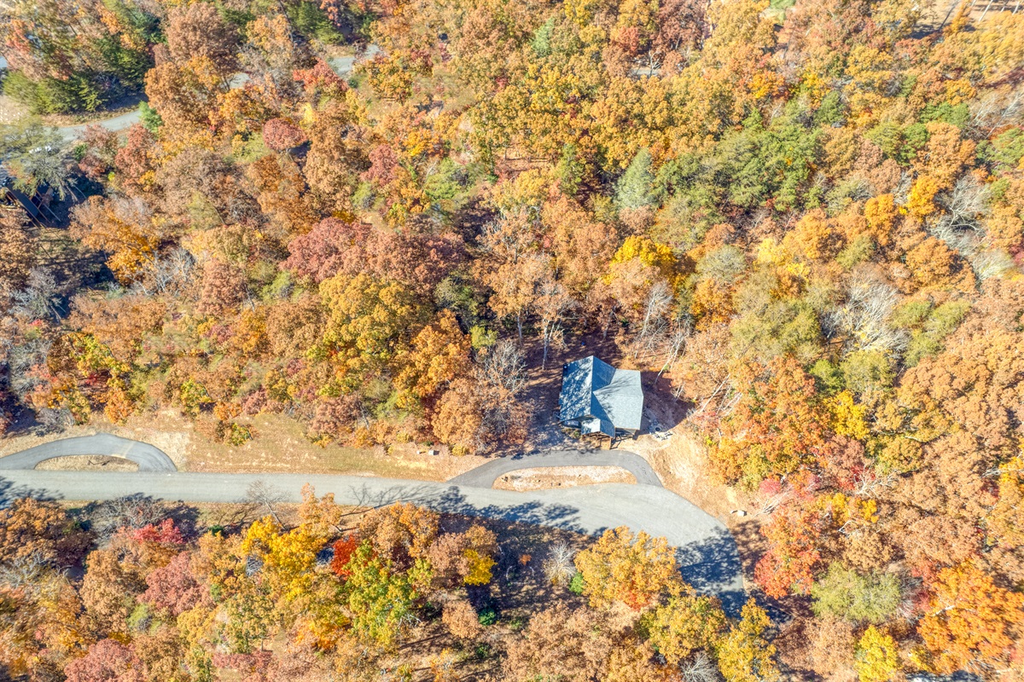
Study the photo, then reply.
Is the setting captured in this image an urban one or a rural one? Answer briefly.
rural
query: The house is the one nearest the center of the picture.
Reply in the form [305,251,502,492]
[558,354,645,454]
